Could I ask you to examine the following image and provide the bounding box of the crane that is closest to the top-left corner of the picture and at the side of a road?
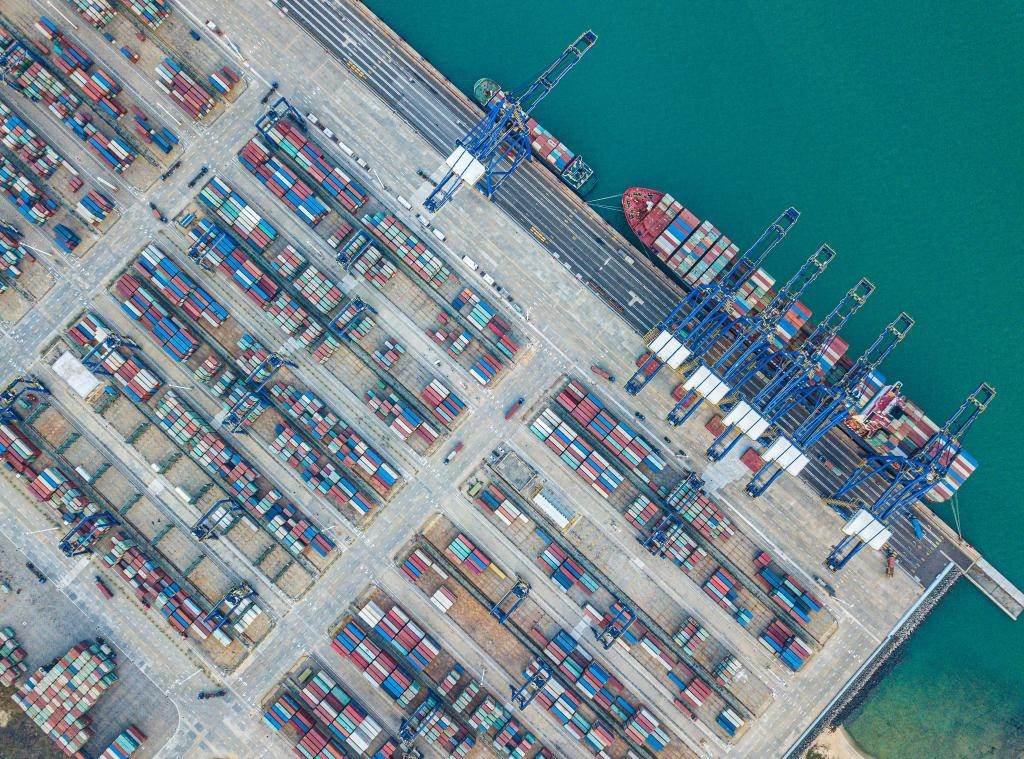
[0,39,47,94]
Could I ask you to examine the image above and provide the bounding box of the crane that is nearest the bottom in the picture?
[396,687,443,744]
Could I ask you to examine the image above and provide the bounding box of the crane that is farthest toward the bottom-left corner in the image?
[58,509,119,557]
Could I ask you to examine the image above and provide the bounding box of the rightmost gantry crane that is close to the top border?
[422,29,595,210]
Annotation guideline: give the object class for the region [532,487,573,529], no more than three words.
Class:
shed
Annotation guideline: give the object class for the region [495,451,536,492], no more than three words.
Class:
building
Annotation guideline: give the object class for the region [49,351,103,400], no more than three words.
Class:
shed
